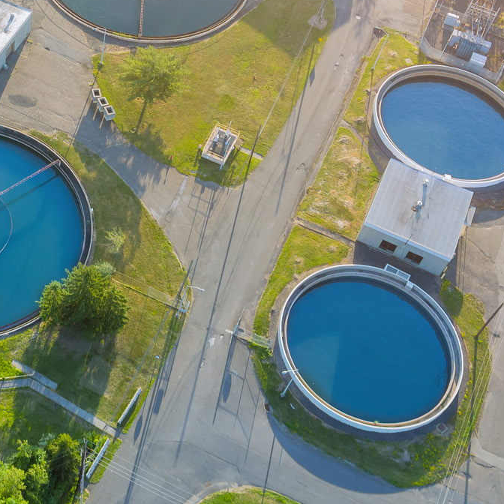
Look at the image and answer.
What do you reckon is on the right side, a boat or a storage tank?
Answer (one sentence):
There is a storage tank on the right side.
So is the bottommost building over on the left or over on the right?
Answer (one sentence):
You can find the bottommost building on the right side of the picture.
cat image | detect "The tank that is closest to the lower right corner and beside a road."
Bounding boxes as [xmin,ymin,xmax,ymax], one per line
[275,265,463,433]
